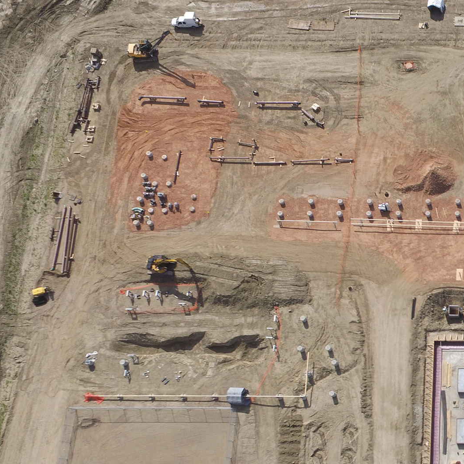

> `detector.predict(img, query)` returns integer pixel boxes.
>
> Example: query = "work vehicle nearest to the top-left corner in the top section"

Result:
[126,24,174,62]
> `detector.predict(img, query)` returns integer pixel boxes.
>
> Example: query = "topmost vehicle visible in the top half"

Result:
[171,14,204,31]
